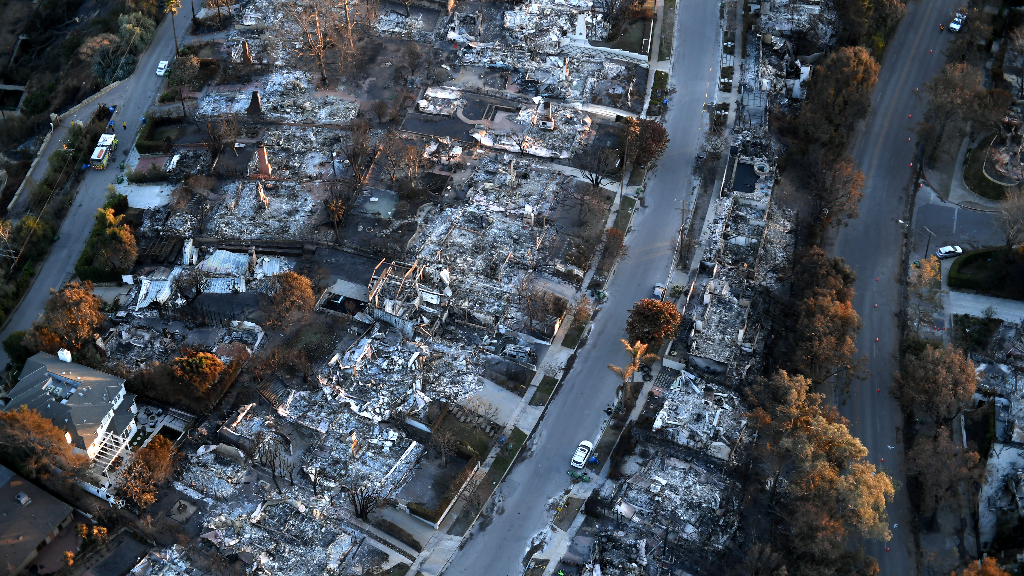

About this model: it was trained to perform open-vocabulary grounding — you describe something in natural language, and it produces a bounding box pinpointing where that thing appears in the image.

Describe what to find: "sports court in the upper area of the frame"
[402,112,474,141]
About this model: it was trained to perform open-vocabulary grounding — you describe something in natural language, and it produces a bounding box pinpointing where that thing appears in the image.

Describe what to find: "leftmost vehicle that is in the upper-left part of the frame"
[90,131,116,172]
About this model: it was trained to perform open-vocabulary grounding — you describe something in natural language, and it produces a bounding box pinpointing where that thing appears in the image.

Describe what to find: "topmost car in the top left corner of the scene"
[156,60,169,75]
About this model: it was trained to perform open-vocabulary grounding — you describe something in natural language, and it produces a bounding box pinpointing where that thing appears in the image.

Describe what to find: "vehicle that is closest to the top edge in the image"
[948,10,967,33]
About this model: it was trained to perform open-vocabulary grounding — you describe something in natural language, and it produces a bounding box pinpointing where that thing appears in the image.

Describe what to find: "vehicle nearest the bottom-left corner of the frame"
[107,310,136,323]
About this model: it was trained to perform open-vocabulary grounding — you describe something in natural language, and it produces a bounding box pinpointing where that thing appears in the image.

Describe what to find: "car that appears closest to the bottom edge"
[572,442,591,468]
